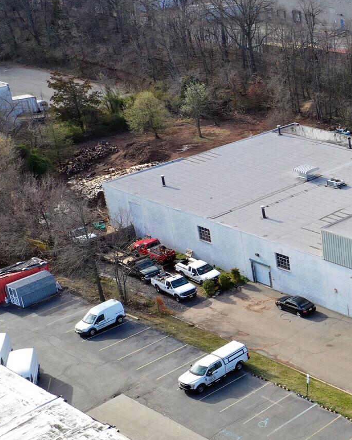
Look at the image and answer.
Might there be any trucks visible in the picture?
Yes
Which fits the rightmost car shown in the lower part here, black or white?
black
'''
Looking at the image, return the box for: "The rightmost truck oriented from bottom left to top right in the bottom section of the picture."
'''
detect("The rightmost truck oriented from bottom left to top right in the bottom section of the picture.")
[173,338,249,394]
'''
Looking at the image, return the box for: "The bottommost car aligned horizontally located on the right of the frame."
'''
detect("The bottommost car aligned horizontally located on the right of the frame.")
[273,294,316,316]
